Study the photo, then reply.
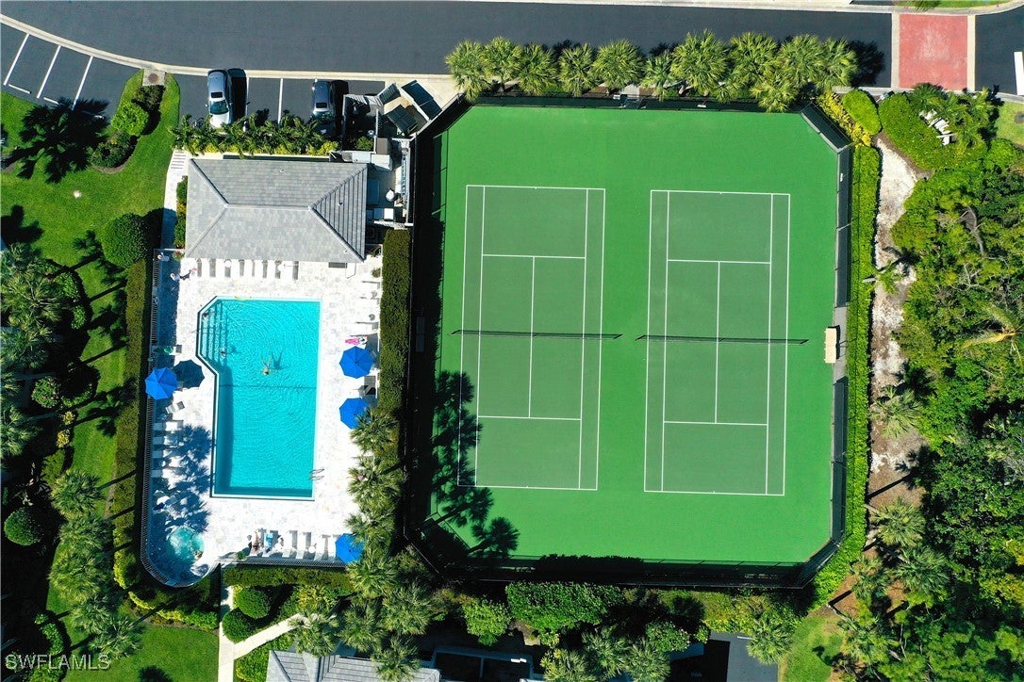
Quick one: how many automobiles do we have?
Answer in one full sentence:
The picture shows 2 automobiles.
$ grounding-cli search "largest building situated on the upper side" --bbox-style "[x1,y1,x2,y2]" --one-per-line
[183,157,367,264]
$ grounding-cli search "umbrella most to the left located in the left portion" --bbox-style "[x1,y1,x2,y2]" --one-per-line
[145,367,179,400]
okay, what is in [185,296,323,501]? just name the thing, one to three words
swimming pool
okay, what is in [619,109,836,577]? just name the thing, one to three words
tennis court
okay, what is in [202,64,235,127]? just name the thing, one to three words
car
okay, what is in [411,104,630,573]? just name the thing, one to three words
tennis court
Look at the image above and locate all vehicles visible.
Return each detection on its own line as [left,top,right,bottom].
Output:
[308,74,339,137]
[202,64,235,127]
